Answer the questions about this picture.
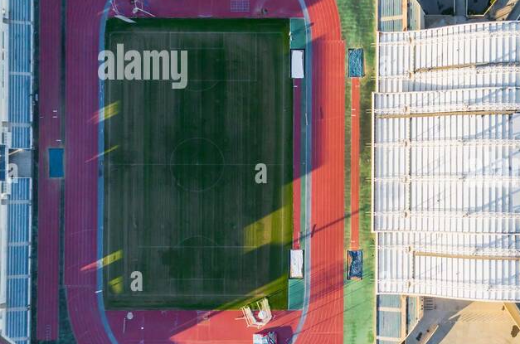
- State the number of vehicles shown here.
0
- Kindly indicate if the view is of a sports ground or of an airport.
sports ground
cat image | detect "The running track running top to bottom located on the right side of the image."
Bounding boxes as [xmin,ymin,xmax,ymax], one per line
[304,42,344,344]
